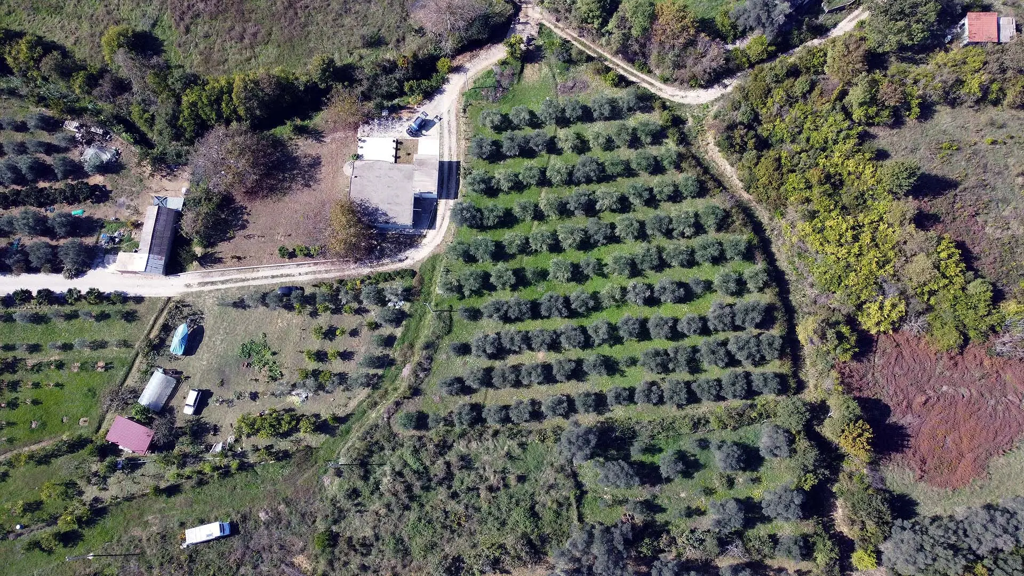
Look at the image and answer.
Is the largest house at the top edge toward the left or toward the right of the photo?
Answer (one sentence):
It is on the right.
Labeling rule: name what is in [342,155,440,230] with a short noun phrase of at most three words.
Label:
house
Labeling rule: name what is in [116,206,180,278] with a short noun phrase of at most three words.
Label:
barn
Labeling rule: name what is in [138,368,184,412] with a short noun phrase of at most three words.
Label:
shed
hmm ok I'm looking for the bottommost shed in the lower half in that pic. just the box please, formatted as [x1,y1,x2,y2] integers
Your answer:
[106,415,160,455]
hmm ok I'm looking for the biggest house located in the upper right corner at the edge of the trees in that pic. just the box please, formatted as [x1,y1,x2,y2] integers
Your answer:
[952,12,998,50]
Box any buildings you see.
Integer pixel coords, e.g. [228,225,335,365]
[138,368,184,412]
[106,415,160,455]
[116,206,180,278]
[952,12,998,50]
[342,155,440,230]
